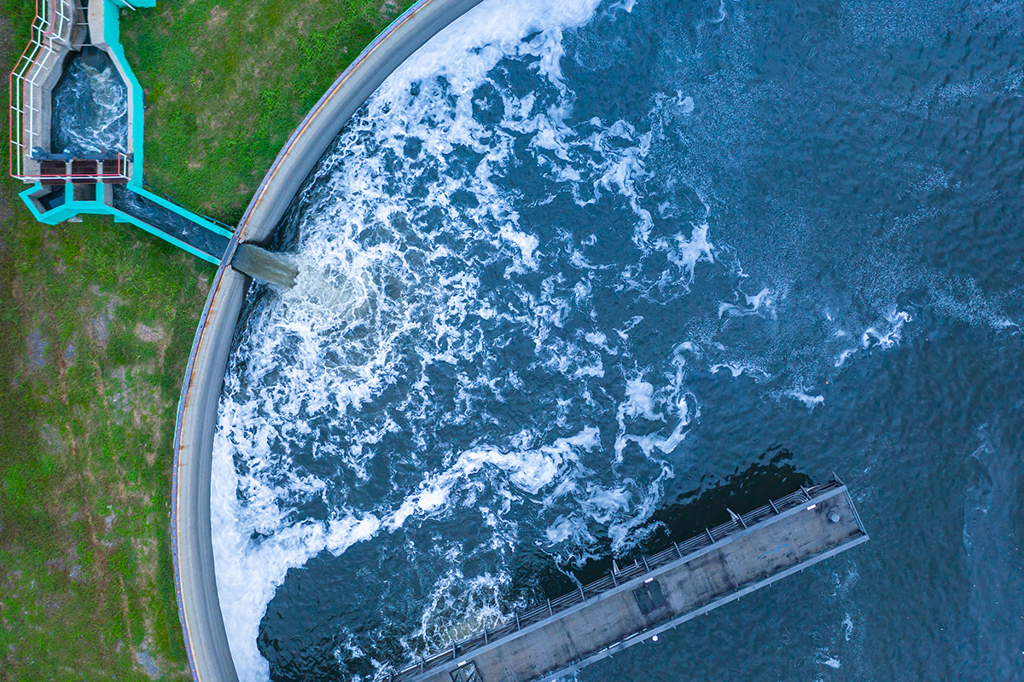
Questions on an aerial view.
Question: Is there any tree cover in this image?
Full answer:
No, the scene doesn't show any tree cover.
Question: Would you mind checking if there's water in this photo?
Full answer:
Yes, there is water in the image.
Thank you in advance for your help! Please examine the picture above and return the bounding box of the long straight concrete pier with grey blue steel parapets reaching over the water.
[368,467,871,682]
